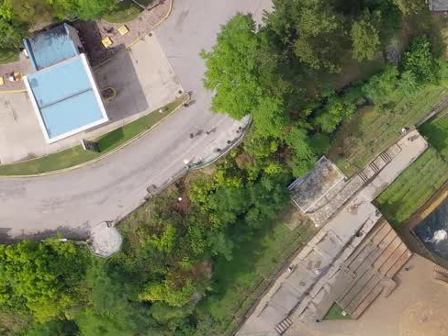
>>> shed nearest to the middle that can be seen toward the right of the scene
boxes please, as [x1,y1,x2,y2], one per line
[288,157,350,213]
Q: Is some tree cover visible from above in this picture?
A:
Yes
